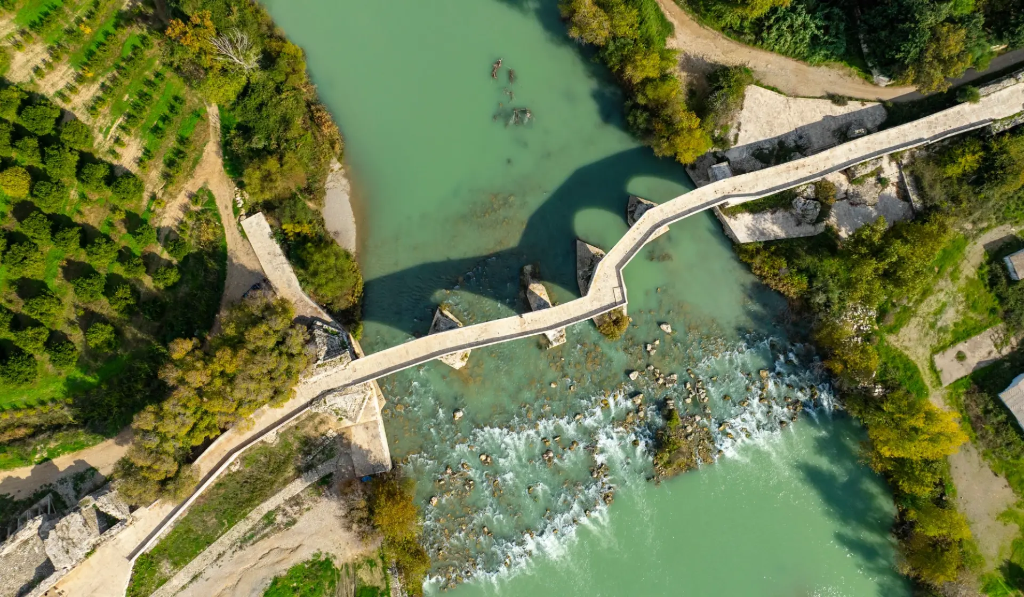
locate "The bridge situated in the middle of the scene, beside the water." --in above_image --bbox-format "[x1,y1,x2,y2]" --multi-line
[105,82,1024,561]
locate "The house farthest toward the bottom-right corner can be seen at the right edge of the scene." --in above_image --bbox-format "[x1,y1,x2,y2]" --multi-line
[991,371,1024,442]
